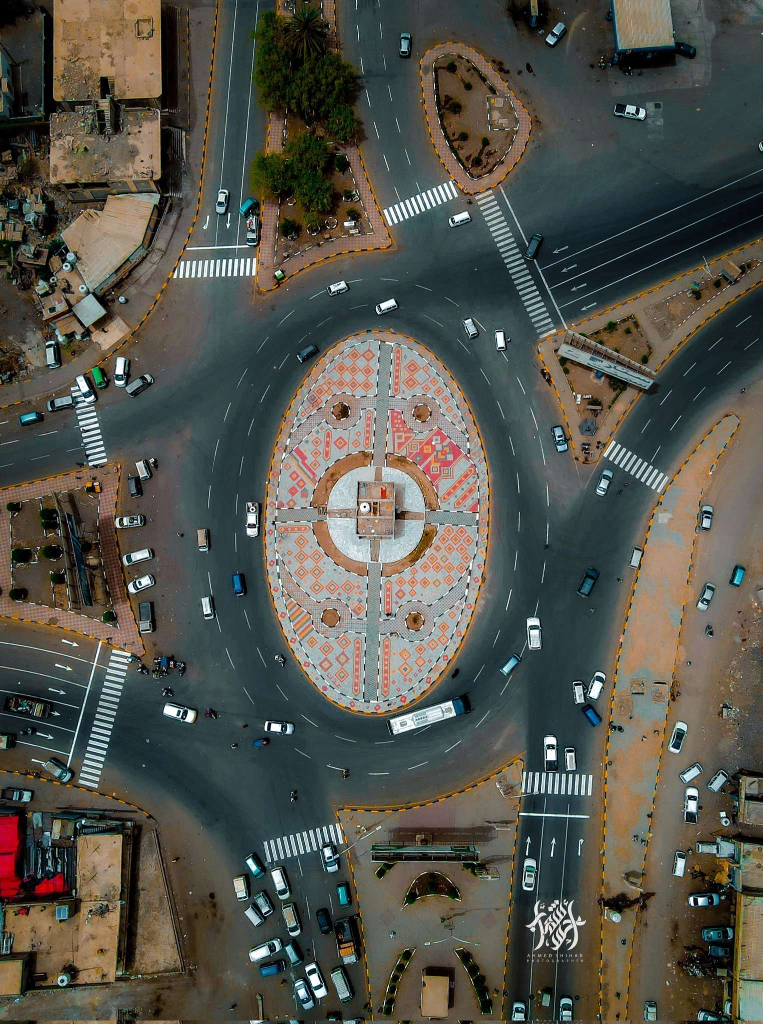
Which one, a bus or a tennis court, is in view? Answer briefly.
bus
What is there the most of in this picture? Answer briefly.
paved ground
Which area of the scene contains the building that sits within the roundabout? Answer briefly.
center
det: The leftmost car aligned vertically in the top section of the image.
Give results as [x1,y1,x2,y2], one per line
[44,341,60,369]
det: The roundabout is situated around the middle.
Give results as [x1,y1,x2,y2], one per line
[263,329,491,716]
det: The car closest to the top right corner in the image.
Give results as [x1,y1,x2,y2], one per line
[668,38,696,58]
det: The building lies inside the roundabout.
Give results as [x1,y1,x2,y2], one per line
[357,481,395,543]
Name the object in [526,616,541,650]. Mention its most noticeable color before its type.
white car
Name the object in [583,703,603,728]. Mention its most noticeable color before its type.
blue vehicle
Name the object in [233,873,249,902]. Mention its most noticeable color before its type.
white vehicle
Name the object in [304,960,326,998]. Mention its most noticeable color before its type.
white car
